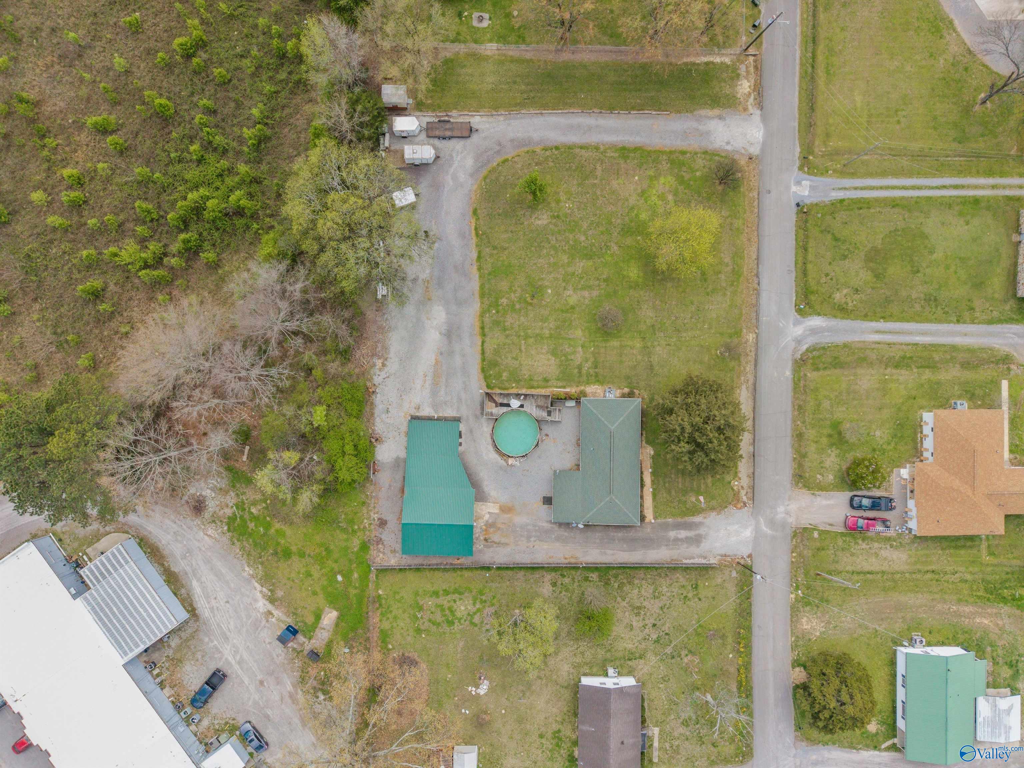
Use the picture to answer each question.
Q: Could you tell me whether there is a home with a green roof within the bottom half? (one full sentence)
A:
Yes, looking within the bottom half, one can make out a home with a green roof.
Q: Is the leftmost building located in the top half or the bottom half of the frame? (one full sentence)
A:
It is in the bottom half that the leftmost building appears.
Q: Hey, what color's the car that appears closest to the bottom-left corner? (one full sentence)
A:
The car that appears closest to the bottom-left corner looks red in the image.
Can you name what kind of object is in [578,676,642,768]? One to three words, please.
house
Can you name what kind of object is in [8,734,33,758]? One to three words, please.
car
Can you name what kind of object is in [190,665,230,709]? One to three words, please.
truck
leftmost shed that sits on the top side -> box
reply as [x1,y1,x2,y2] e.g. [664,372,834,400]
[382,85,407,110]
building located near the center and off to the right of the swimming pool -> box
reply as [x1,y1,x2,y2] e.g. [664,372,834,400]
[552,398,642,526]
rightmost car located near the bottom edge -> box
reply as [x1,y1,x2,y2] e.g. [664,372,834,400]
[239,719,270,754]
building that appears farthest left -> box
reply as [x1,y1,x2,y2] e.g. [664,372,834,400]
[0,535,209,768]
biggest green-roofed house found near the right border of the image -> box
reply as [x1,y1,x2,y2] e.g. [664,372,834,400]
[896,647,987,767]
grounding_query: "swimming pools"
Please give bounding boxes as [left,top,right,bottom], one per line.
[490,409,543,459]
